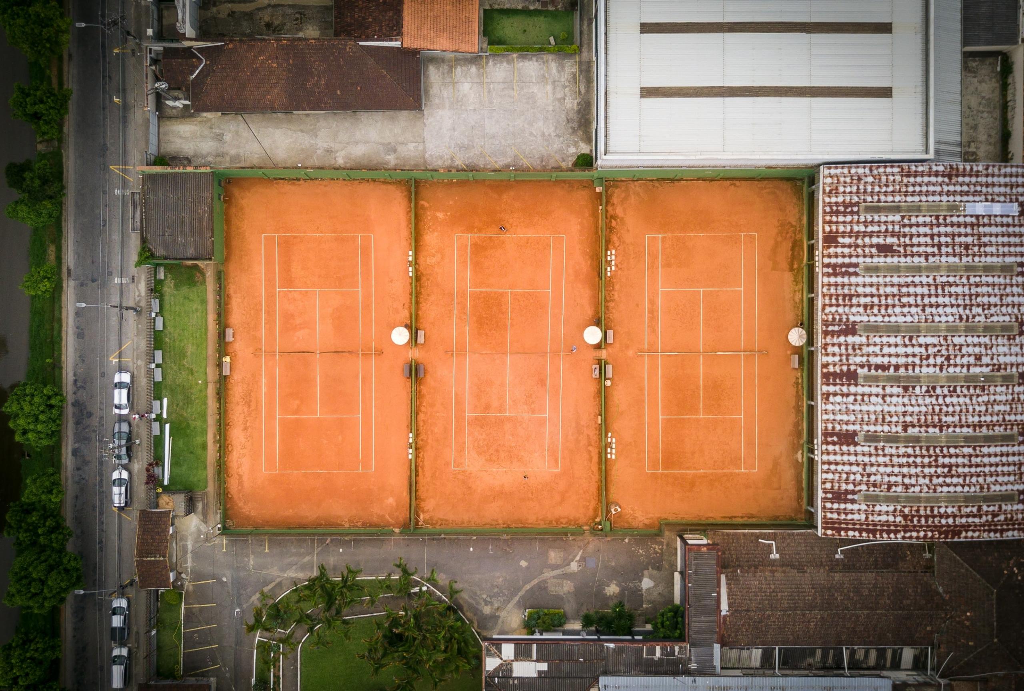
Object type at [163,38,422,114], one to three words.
house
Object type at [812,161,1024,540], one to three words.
building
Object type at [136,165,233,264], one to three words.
building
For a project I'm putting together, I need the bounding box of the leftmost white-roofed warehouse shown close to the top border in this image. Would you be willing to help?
[589,0,934,170]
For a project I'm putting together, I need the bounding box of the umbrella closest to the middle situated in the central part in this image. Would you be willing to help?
[583,326,602,344]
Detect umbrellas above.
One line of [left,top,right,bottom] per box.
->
[788,327,806,345]
[583,326,602,344]
[391,327,410,345]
